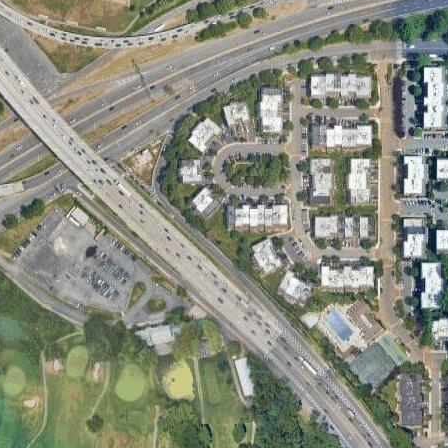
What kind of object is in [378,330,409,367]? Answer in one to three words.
sports court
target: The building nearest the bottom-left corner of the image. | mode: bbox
[136,324,180,344]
